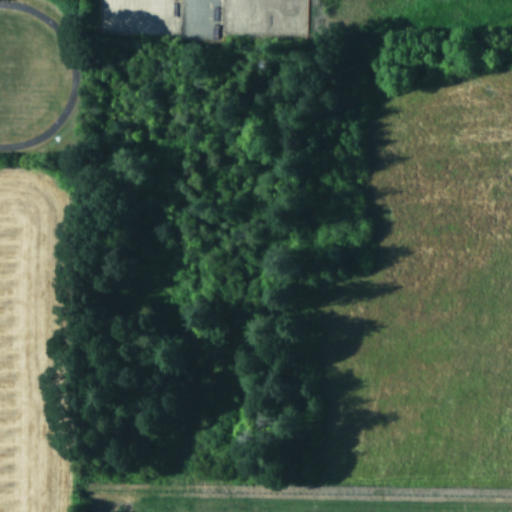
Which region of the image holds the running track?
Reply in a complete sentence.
The running track appears toward the top left of the photo.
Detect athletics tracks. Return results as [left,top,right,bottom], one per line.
[0,0,80,152]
